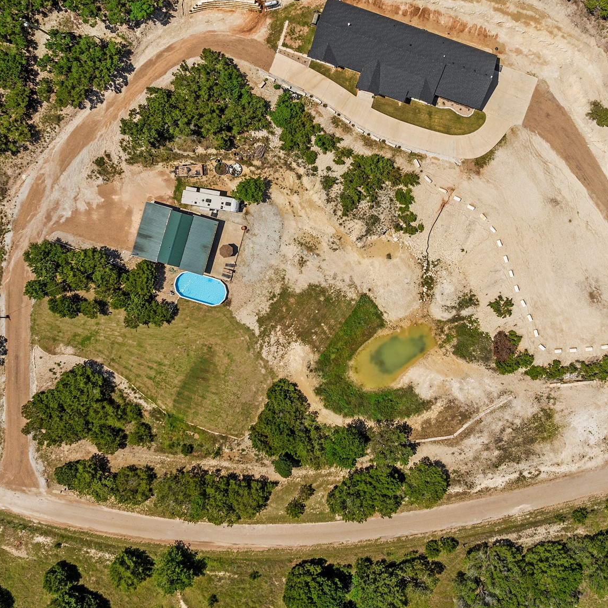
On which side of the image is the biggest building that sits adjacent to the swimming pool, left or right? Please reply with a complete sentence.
You can find the biggest building that sits adjacent to the swimming pool on the left side of the picture.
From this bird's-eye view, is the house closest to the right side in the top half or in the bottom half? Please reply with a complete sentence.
The house closest to the right side is in the top half of the image.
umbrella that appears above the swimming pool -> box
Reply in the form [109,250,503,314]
[220,244,234,258]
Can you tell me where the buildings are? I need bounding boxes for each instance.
[132,202,219,276]
[308,0,497,109]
